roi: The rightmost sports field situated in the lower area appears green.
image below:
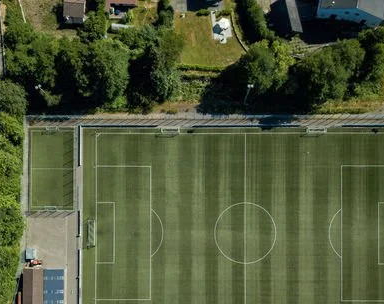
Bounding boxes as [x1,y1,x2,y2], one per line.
[81,125,384,304]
